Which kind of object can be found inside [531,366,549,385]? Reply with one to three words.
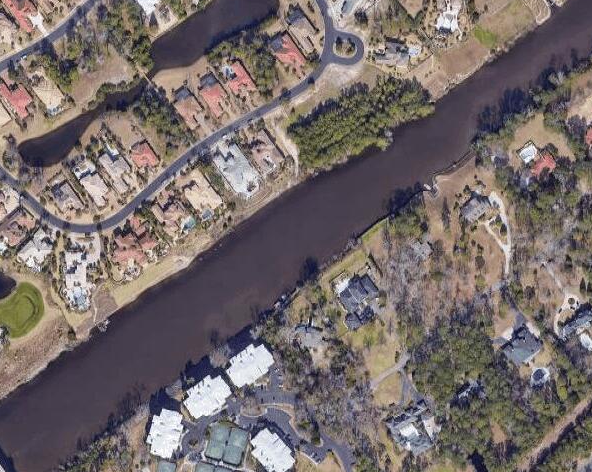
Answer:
swimming pool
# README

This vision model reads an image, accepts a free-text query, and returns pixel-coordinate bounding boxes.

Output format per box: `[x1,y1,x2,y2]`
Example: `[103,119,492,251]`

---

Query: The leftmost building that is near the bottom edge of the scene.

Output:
[148,408,183,456]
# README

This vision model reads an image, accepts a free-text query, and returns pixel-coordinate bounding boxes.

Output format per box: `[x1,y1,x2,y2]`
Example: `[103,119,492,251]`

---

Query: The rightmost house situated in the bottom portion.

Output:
[561,313,592,342]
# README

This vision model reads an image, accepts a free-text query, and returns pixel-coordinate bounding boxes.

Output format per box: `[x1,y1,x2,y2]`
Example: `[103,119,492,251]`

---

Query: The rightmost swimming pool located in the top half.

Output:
[517,141,539,163]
